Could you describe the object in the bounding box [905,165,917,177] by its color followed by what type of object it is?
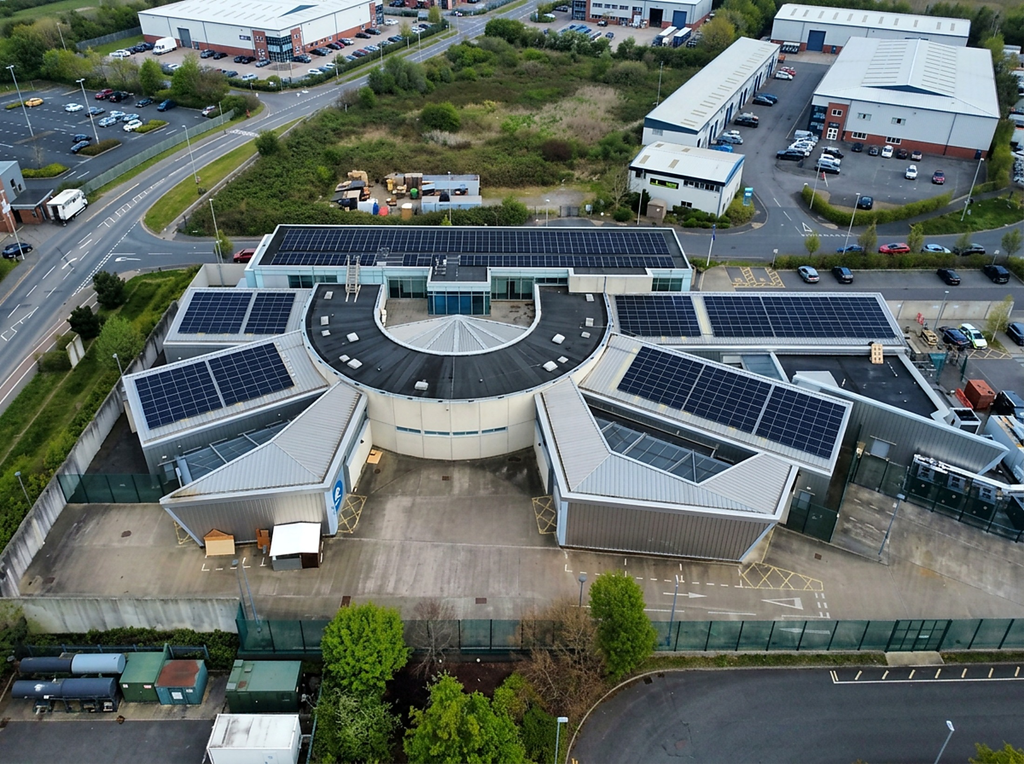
white vehicle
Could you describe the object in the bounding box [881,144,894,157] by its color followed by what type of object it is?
white vehicle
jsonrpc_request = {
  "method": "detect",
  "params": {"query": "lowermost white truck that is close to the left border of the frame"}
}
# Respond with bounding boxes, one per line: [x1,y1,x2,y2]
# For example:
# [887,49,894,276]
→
[41,190,89,223]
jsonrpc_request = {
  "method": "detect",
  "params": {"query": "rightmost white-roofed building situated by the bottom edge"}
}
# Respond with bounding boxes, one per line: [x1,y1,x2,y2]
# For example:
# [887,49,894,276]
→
[208,714,307,764]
